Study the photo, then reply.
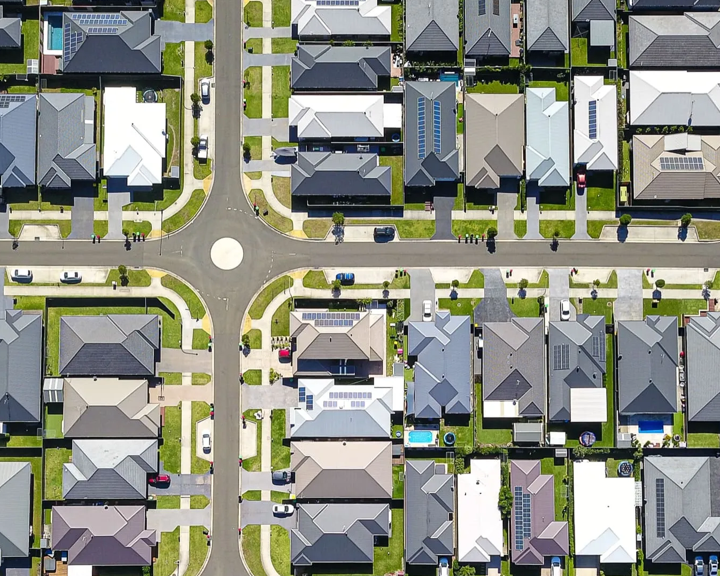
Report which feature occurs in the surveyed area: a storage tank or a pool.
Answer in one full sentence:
The image shows a pool.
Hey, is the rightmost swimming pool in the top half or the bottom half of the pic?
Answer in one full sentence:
The rightmost swimming pool sits in the bottom half of the picture.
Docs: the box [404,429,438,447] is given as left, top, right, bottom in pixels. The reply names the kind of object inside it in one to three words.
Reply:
swimming pool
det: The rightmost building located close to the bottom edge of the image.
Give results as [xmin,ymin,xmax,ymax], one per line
[643,456,720,563]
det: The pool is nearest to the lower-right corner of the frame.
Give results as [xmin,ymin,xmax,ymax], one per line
[619,416,674,447]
